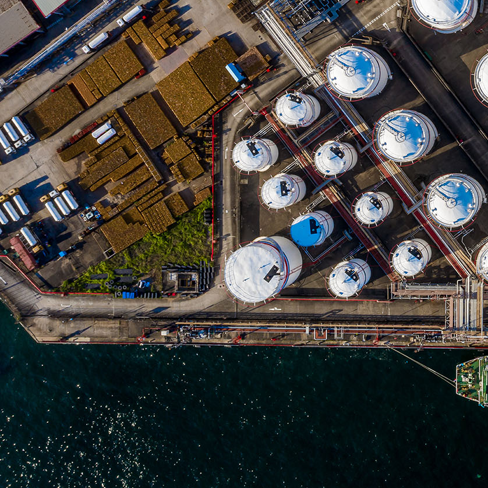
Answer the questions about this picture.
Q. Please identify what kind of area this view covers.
industrial area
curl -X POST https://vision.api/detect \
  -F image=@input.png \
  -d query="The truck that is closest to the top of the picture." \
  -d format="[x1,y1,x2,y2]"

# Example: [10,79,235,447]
[115,3,147,27]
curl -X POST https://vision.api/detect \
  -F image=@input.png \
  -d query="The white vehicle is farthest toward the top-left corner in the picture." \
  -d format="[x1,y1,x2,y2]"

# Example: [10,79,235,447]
[81,31,114,55]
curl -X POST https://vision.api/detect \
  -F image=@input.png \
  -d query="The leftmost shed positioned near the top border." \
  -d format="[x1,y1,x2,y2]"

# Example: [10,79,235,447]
[0,0,53,66]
